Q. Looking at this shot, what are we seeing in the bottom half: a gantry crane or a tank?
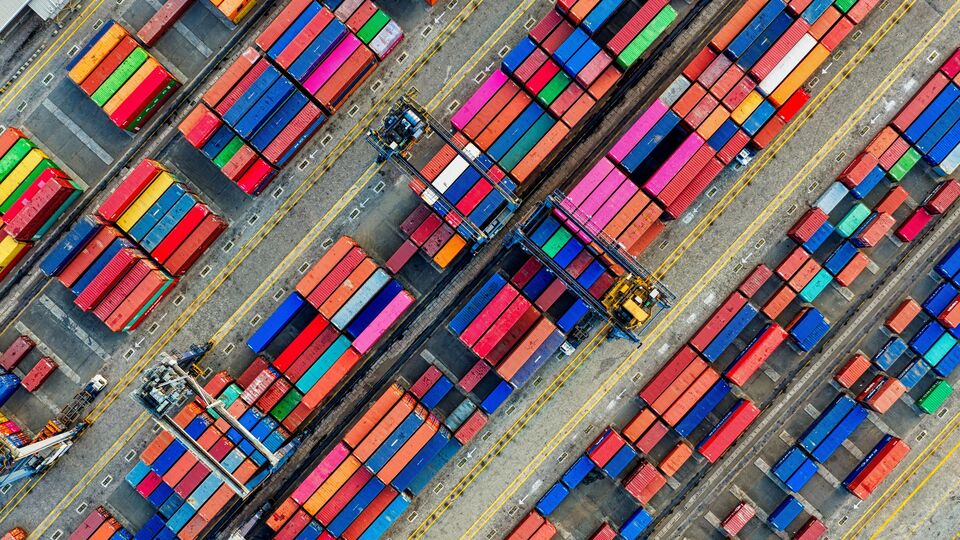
gantry crane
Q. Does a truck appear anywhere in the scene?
Yes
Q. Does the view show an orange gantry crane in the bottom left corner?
No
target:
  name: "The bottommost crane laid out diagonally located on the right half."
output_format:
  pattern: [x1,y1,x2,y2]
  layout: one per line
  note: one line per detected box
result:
[505,184,683,347]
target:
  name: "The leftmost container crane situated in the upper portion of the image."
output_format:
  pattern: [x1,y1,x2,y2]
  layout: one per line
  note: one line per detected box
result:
[365,89,526,253]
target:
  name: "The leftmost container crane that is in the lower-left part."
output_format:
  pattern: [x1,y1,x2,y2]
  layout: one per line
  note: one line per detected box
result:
[0,421,88,490]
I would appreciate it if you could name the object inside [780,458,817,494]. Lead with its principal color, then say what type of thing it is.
blue shipping container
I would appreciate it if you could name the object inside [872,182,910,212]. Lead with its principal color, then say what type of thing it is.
red shipping container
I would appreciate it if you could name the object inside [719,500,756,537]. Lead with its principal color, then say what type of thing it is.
red shipping container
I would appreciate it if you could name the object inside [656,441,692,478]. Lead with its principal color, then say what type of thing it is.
orange shipping container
